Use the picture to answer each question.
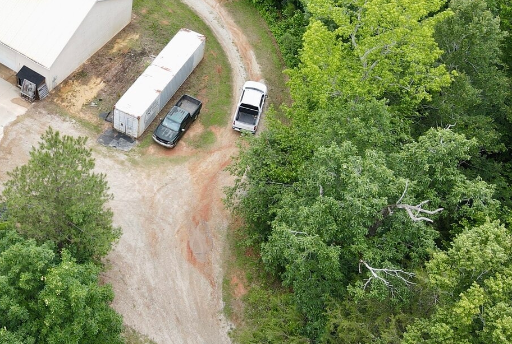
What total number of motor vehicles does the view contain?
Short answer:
2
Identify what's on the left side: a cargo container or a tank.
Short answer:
cargo container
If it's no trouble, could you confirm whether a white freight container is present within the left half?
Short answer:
Yes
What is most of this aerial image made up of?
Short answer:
trees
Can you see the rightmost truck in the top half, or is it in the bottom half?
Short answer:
top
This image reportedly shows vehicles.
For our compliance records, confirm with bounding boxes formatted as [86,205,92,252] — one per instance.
[232,80,268,134]
[155,92,201,146]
